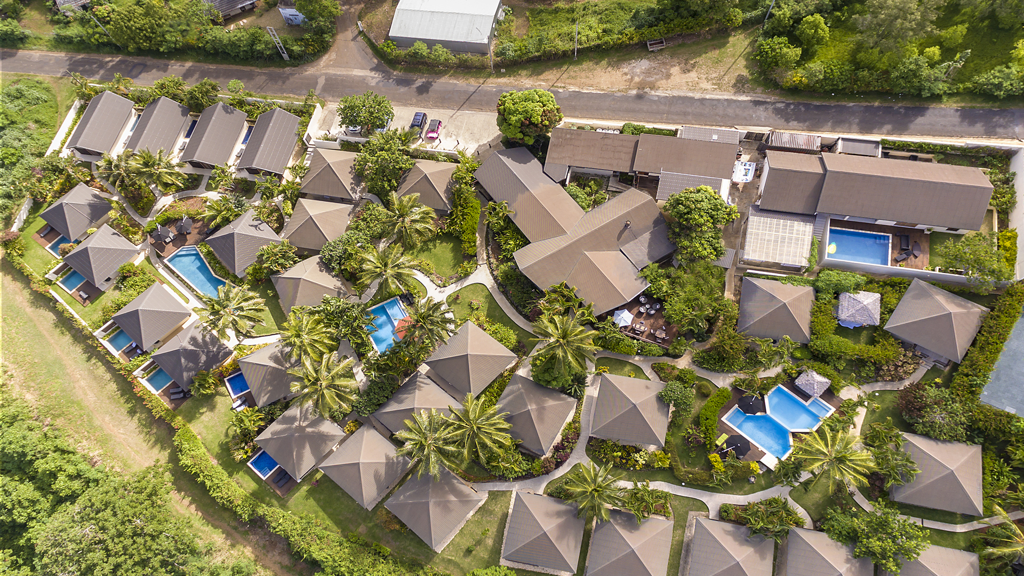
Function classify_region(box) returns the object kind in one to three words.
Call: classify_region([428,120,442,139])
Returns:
car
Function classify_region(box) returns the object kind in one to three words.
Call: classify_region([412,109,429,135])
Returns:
car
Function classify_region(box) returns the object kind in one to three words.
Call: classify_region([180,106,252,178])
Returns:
house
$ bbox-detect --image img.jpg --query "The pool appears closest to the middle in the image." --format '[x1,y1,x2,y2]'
[363,293,413,355]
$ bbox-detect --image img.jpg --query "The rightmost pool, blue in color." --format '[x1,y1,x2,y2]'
[818,226,892,265]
